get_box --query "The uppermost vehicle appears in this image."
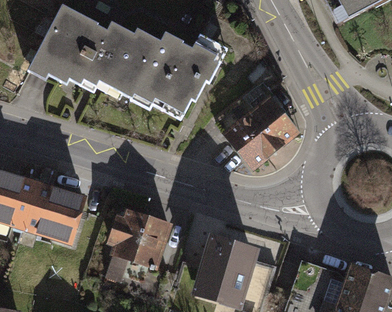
[279,90,297,111]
